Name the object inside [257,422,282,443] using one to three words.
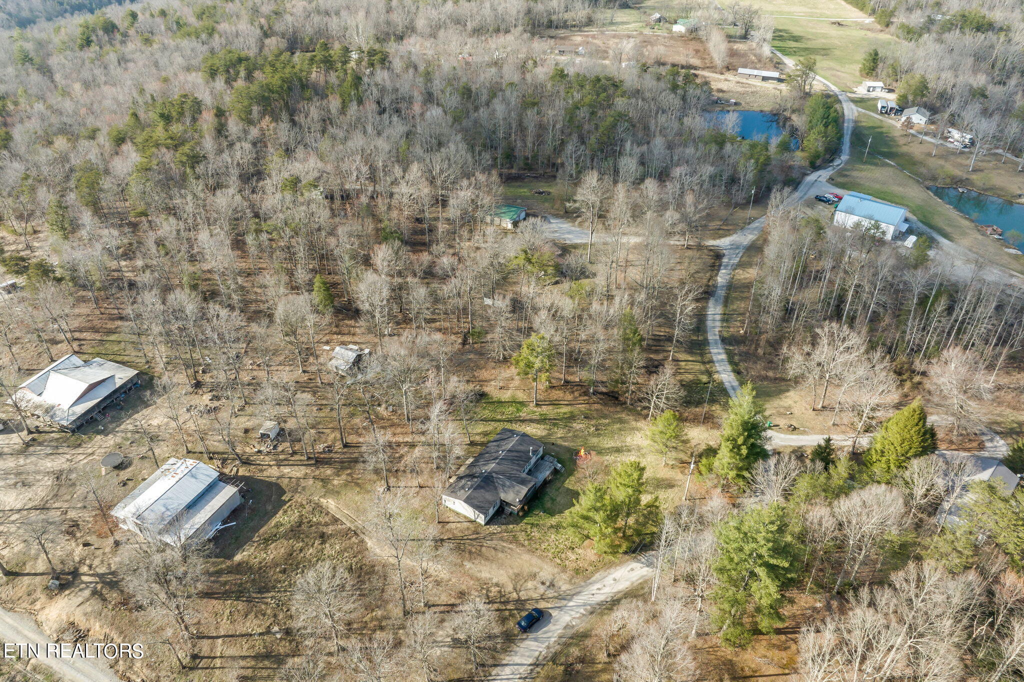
shed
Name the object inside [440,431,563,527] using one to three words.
house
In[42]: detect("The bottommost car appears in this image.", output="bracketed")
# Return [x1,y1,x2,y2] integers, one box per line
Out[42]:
[515,607,546,632]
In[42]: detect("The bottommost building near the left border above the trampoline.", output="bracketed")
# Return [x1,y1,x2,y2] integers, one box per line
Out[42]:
[0,350,141,437]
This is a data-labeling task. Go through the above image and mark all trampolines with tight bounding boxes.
[98,455,123,473]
